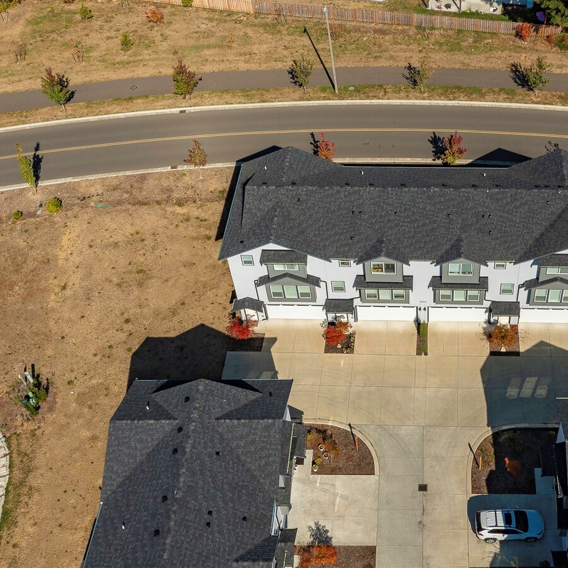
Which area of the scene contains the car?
bottom right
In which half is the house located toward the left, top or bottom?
bottom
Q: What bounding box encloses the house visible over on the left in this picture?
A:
[82,375,310,568]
